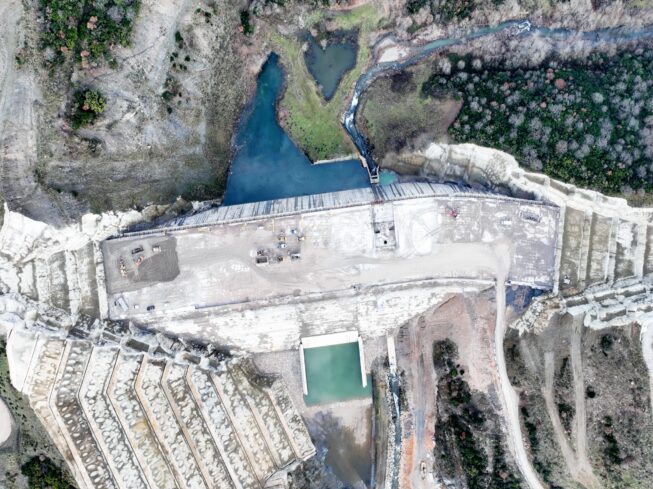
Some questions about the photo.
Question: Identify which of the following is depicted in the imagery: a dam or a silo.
dam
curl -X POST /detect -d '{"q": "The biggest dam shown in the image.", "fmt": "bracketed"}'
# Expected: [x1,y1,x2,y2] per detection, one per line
[103,182,560,354]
